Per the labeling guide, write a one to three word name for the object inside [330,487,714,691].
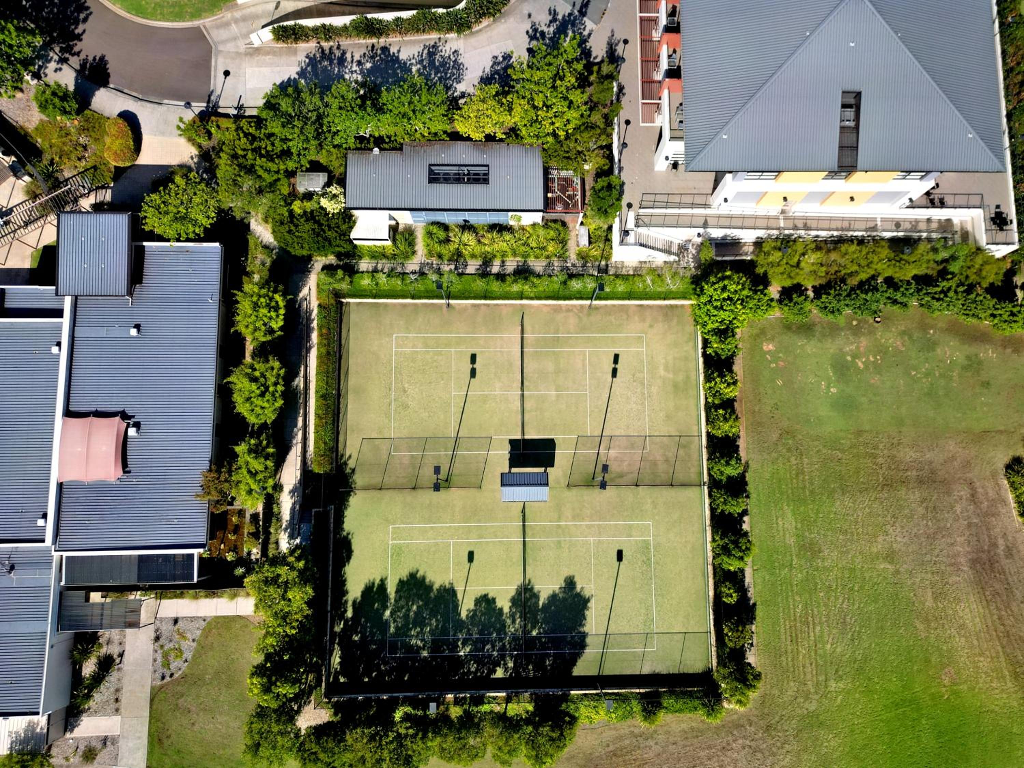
tennis court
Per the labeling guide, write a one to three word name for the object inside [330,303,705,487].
tennis court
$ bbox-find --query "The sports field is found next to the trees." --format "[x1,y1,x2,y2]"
[327,302,1024,768]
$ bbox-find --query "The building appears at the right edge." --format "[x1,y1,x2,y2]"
[649,0,1006,216]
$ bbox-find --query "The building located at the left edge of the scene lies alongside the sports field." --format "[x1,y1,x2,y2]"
[0,210,231,768]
